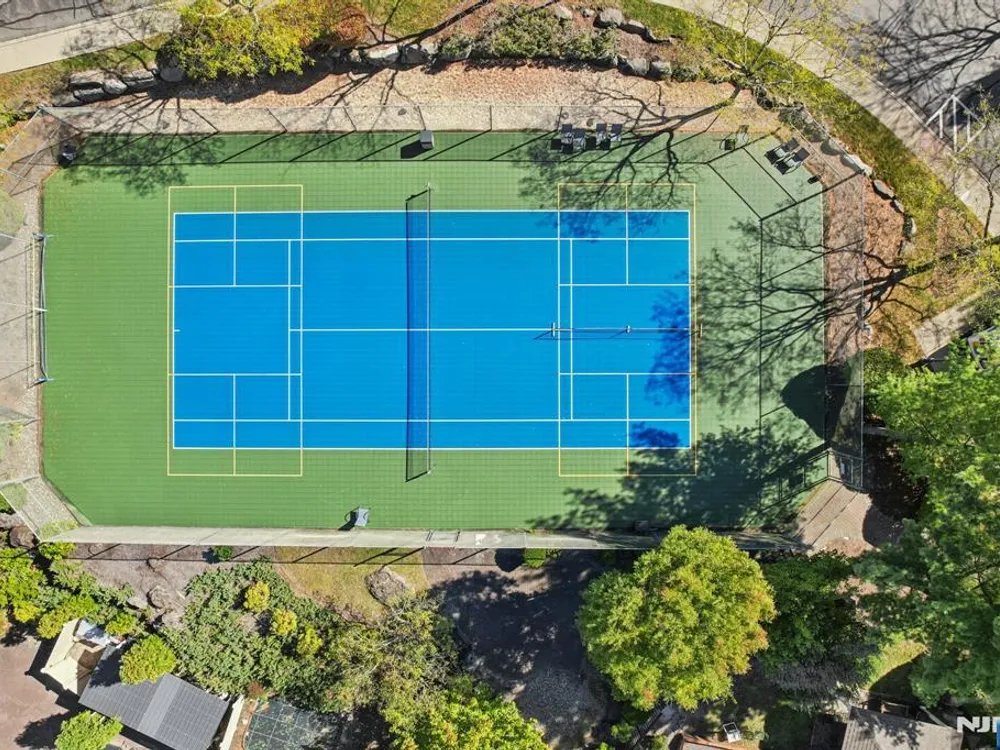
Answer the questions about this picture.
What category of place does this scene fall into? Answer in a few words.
sports ground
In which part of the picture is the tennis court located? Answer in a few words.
center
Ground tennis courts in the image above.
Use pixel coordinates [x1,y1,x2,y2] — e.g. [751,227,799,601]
[38,133,823,527]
